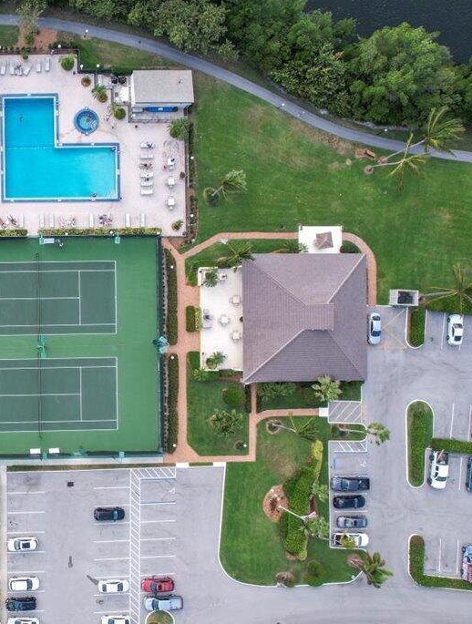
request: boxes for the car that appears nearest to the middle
[366,312,383,344]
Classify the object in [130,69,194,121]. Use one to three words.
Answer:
building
